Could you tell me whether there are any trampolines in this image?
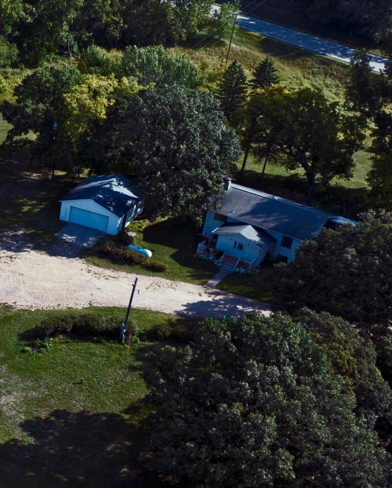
No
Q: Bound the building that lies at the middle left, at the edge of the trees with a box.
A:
[57,174,145,236]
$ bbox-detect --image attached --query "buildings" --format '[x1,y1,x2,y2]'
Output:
[57,174,145,236]
[191,174,362,271]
